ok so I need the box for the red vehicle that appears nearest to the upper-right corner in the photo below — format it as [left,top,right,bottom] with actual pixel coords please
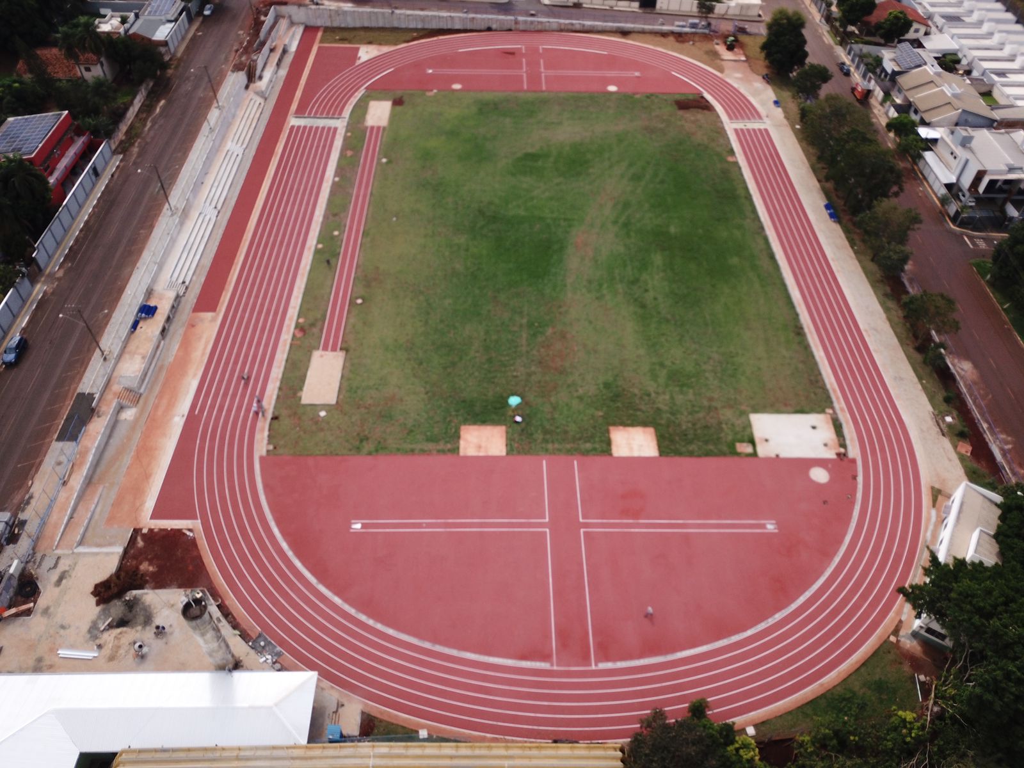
[853,78,871,103]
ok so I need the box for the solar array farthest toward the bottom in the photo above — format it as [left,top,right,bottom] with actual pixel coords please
[0,113,63,151]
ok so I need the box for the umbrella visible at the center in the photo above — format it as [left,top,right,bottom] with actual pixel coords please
[507,395,522,411]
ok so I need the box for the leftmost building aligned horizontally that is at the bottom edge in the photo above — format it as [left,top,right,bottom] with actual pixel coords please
[0,670,320,768]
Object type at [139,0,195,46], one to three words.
house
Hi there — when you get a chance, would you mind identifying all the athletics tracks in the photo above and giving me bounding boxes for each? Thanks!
[196,31,923,740]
